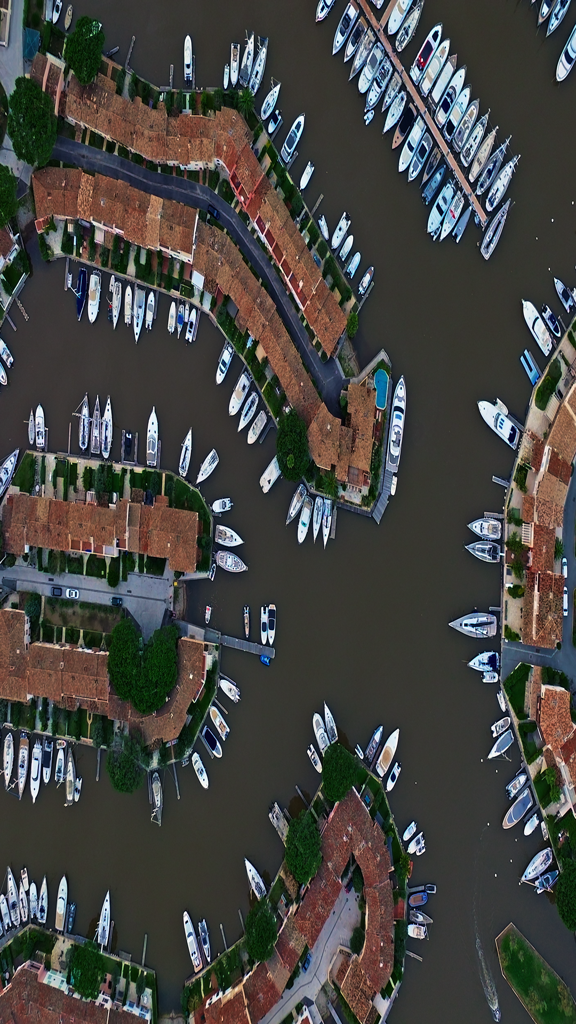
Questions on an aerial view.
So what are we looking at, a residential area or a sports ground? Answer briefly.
residential area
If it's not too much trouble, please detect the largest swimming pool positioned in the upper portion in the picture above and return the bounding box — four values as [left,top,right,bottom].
[373,368,389,410]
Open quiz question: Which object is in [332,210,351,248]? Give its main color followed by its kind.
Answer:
white boat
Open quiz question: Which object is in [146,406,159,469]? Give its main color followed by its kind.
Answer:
white boat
